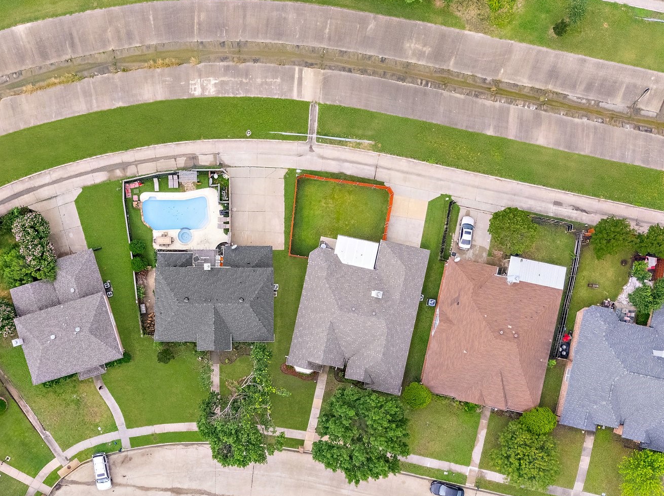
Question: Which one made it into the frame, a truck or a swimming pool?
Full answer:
The one in the frame is a swimming pool.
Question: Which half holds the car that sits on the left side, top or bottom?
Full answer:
You can find the car that sits on the left side in the bottom half.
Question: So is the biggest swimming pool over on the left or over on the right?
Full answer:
The biggest swimming pool is on the left side of the image.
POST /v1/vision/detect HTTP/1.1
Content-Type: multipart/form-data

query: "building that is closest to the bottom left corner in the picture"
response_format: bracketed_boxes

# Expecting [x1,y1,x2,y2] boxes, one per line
[8,247,123,385]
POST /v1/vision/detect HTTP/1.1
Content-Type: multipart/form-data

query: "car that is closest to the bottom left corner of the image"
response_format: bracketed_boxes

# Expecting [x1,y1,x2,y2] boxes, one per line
[92,452,113,490]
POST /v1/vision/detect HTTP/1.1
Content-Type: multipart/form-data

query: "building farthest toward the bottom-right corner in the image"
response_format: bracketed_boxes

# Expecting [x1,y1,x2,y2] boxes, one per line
[554,305,664,450]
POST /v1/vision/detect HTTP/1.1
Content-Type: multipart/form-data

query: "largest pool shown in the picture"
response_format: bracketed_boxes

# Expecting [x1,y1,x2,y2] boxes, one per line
[134,187,230,250]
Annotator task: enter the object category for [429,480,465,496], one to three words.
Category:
car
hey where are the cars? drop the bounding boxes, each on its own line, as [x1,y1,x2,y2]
[92,452,113,490]
[457,216,475,250]
[429,480,465,496]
